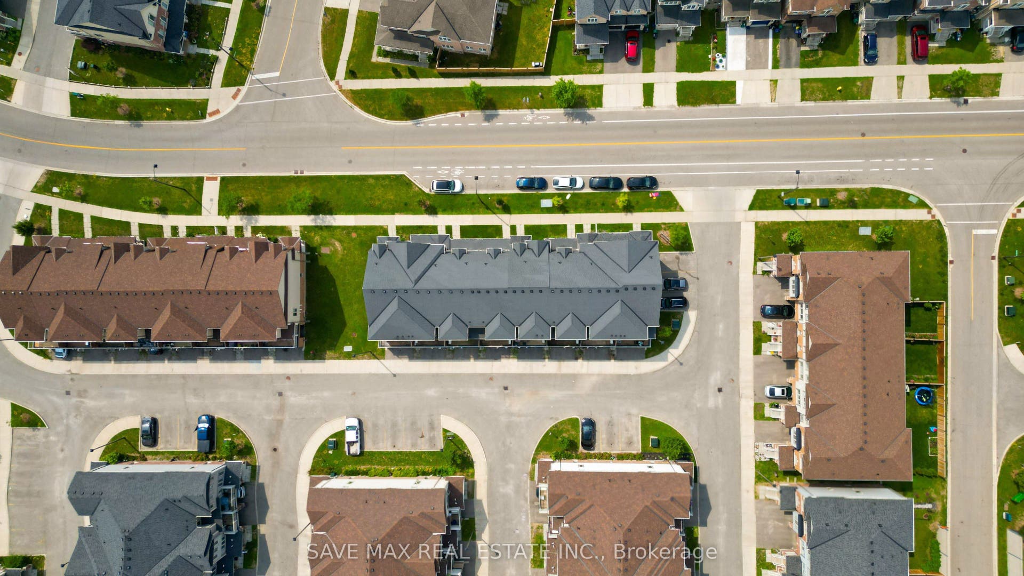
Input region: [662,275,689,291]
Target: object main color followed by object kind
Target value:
black car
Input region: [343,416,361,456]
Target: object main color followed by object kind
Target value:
white vehicle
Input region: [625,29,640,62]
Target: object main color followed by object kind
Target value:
red car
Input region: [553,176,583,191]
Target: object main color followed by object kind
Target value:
white car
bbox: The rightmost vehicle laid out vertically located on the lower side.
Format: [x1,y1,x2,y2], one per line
[580,417,595,450]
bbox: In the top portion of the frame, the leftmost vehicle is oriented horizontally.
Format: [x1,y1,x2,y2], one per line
[431,178,463,193]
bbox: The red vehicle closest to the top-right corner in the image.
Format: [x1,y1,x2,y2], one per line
[911,26,930,61]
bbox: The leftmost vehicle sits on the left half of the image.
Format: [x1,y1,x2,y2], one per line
[52,348,70,362]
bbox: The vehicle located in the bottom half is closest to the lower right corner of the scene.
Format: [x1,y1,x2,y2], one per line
[764,385,793,400]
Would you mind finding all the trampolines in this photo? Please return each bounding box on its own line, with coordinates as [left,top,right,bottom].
[913,387,941,408]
